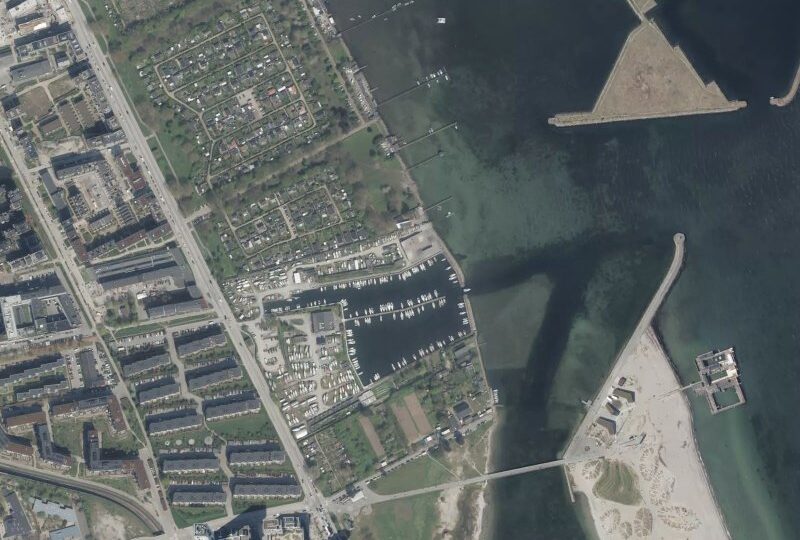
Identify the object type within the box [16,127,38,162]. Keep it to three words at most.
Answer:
building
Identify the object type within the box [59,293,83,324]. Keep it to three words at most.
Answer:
house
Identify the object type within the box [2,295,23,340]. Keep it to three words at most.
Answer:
building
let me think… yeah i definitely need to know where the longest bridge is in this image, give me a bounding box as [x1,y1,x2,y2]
[483,459,568,481]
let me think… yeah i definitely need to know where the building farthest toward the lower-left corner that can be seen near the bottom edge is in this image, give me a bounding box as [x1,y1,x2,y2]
[3,492,32,538]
